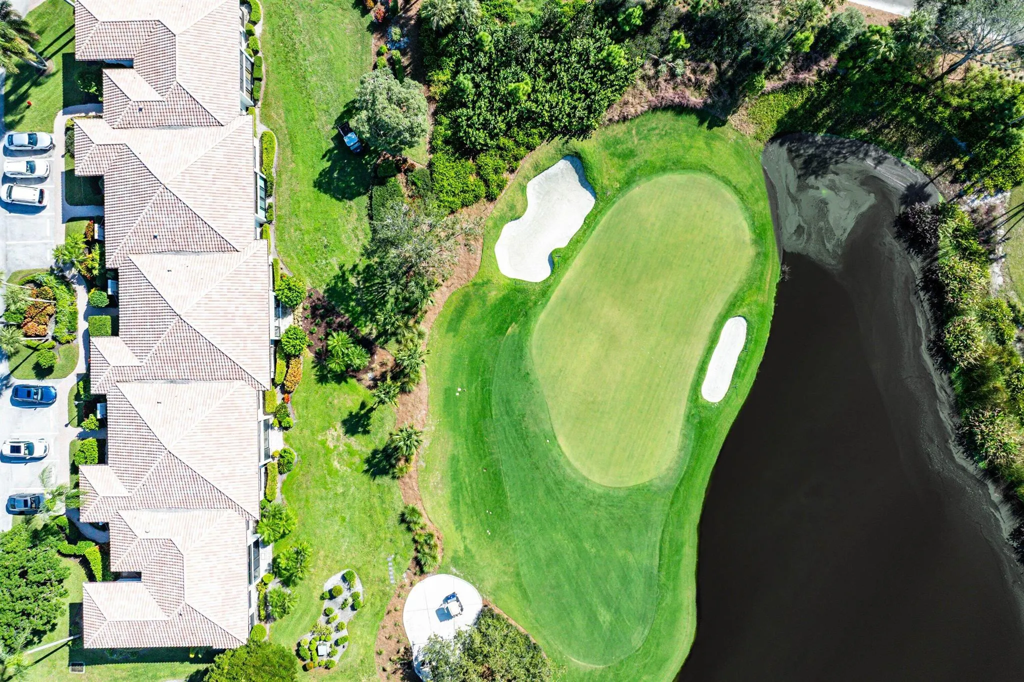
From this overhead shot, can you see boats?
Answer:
No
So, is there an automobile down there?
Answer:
Yes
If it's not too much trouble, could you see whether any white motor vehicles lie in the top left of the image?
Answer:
Yes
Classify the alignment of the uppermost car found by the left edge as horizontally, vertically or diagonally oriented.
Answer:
horizontally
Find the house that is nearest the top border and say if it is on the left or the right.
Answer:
left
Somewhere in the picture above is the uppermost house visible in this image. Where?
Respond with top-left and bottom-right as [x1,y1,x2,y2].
[73,0,255,131]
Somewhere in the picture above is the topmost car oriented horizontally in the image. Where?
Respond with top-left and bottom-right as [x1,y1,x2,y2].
[4,128,56,152]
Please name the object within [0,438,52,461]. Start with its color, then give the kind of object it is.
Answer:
white car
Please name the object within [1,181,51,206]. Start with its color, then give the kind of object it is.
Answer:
white car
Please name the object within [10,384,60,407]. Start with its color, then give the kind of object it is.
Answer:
blue car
